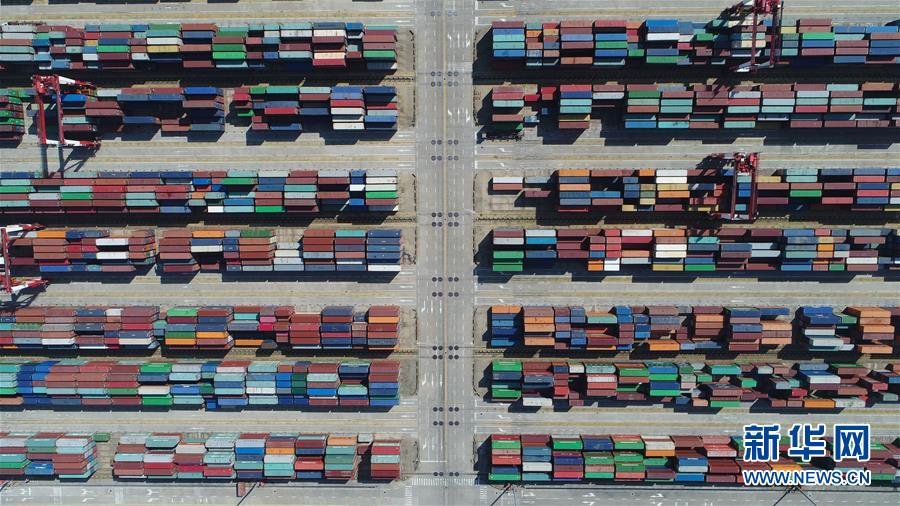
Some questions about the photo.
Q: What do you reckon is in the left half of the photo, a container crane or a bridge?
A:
container crane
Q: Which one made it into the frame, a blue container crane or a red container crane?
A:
red container crane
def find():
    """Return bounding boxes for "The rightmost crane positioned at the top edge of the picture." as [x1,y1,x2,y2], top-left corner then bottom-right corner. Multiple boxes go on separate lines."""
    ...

[722,0,780,73]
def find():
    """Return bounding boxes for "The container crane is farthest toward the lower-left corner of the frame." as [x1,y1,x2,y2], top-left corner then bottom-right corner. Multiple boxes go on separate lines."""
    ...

[0,223,49,292]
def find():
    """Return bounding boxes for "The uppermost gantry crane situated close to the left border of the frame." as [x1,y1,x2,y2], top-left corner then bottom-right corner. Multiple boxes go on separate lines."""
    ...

[32,75,100,146]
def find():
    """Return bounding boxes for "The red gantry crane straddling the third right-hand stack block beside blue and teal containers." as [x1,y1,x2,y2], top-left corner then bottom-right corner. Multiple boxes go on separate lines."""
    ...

[705,153,760,221]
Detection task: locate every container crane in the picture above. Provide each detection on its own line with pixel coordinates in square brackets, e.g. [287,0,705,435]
[722,0,780,73]
[0,223,49,292]
[705,153,760,221]
[32,75,100,146]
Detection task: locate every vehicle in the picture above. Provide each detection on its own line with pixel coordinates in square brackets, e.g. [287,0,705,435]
[0,20,46,27]
[482,133,521,139]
